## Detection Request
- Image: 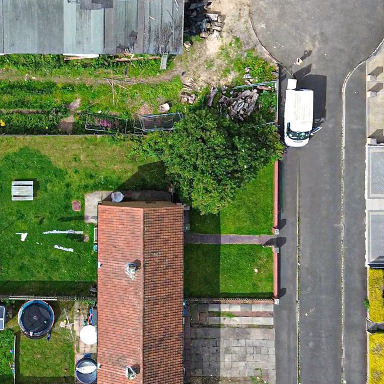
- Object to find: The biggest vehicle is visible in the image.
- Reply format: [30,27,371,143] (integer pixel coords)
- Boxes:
[284,89,322,147]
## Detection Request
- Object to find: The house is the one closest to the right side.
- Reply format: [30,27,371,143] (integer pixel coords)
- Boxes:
[95,198,184,384]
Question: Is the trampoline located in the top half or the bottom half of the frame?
bottom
